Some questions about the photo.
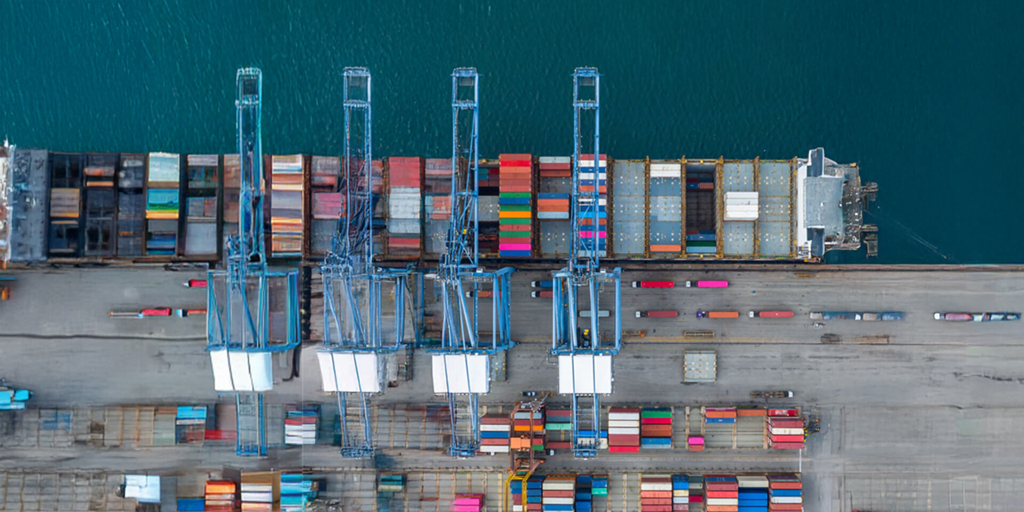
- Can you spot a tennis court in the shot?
No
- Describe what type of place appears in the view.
port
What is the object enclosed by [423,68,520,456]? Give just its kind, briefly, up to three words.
container crane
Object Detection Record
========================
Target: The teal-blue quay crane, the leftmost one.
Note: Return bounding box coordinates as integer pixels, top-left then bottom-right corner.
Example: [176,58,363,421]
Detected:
[199,67,324,455]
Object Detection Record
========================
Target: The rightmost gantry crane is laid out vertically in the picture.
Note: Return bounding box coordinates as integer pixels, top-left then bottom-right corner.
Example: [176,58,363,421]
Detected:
[543,68,629,457]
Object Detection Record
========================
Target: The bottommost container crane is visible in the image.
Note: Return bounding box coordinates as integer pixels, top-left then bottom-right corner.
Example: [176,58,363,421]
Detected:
[509,463,537,512]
